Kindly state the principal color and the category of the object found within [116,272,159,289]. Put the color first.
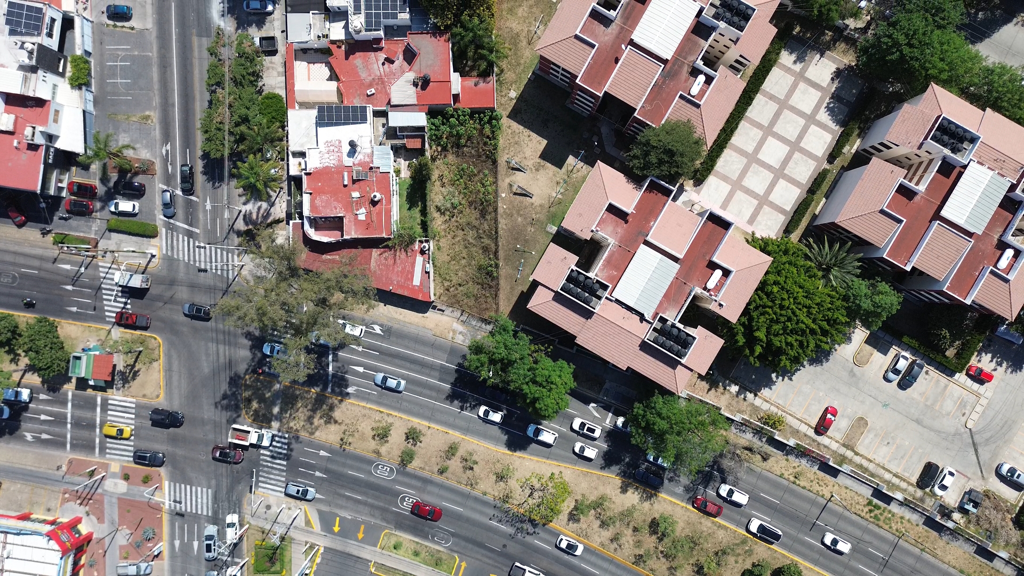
white vehicle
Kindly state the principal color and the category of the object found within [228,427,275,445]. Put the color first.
white vehicle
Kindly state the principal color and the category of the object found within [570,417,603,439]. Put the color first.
white car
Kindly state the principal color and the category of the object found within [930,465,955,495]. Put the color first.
white car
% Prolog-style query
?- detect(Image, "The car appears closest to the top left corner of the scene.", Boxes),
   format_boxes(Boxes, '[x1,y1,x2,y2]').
[106,4,135,20]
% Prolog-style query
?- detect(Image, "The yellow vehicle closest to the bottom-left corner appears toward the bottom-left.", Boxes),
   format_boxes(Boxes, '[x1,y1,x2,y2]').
[103,423,135,439]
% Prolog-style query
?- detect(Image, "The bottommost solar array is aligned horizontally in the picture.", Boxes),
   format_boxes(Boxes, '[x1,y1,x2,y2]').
[316,105,368,122]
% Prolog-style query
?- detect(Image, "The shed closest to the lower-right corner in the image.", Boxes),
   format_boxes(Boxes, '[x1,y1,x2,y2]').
[949,486,983,513]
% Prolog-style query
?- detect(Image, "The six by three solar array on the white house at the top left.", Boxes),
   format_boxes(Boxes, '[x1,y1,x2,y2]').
[4,0,44,32]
